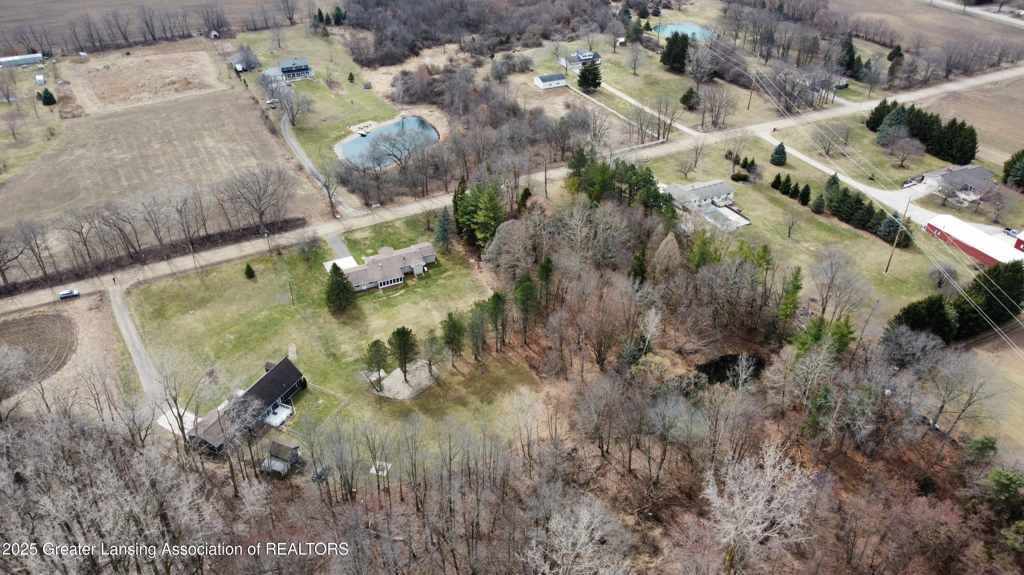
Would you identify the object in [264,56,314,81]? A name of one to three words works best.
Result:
house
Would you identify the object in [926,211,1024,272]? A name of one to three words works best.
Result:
barn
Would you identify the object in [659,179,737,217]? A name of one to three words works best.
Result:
building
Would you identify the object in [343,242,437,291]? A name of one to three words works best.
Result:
house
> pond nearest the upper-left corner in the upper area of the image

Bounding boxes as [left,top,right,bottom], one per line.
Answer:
[342,116,440,169]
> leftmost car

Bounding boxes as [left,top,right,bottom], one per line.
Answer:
[56,288,81,300]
